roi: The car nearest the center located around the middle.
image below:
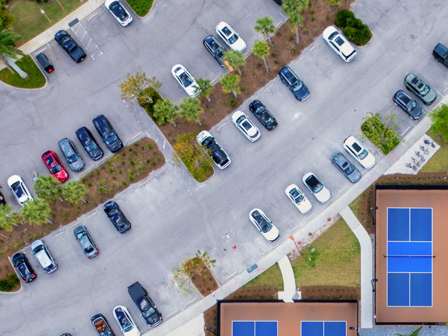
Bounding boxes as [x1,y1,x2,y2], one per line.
[198,130,229,171]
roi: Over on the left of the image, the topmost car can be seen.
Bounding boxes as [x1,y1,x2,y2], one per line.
[104,0,131,28]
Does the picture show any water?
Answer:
No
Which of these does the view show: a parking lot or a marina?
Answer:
parking lot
